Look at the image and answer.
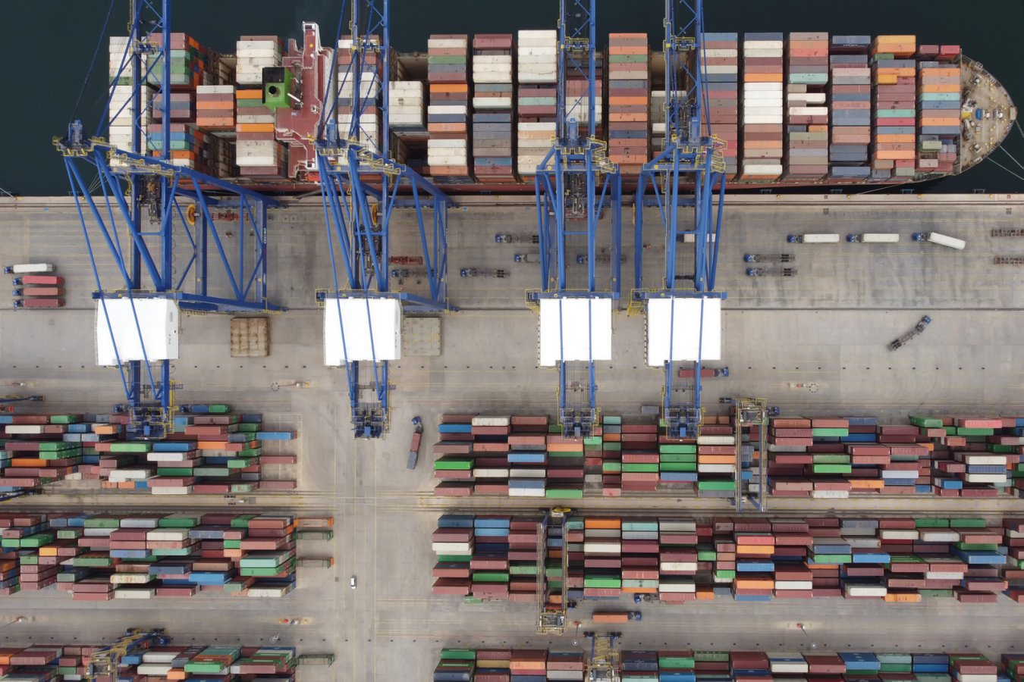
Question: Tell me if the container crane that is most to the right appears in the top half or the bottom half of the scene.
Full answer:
You can find the container crane that is most to the right in the bottom half.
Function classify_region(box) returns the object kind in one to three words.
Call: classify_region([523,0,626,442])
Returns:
container crane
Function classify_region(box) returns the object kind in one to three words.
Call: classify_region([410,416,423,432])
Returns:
vehicle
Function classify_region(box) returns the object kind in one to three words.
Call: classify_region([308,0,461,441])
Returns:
container crane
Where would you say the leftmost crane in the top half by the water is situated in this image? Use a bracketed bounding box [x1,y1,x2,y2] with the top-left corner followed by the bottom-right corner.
[57,0,286,441]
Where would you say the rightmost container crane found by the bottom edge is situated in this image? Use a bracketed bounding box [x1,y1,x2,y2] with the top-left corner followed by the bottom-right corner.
[584,631,626,682]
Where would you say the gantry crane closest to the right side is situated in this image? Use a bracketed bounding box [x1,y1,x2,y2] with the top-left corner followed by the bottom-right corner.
[718,398,769,515]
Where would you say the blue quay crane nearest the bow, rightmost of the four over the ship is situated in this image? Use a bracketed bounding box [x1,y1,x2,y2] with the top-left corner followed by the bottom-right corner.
[625,0,729,442]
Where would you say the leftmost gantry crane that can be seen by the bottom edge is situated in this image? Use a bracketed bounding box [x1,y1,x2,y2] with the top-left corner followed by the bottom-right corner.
[83,628,166,682]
